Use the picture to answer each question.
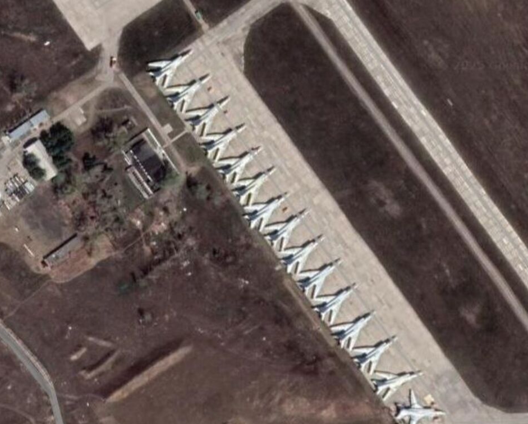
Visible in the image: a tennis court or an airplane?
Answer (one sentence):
Visible in the photo is an airplane.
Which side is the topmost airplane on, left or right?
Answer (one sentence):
It is on the left.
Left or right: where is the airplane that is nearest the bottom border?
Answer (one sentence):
The airplane that is nearest the bottom border appears in the right half of the scene.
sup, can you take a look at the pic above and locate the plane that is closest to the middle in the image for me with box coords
[243,193,287,230]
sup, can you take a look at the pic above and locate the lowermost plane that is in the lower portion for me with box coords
[396,392,443,424]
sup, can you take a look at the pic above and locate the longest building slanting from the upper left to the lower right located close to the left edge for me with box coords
[26,140,59,181]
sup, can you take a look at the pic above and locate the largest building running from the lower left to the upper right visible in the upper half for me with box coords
[9,110,49,138]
